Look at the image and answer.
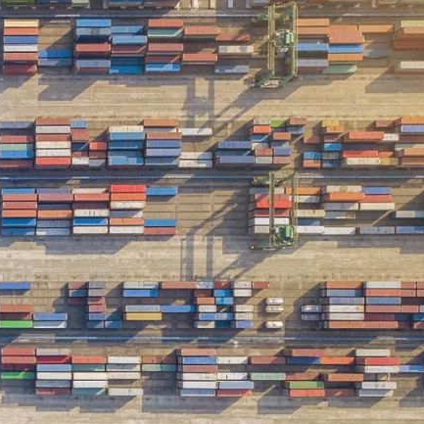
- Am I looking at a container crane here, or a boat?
container crane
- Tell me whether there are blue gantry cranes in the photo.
No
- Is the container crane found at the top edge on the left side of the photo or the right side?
right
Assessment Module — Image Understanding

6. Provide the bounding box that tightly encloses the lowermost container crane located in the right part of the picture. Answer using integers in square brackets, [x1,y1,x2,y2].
[250,174,299,250]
